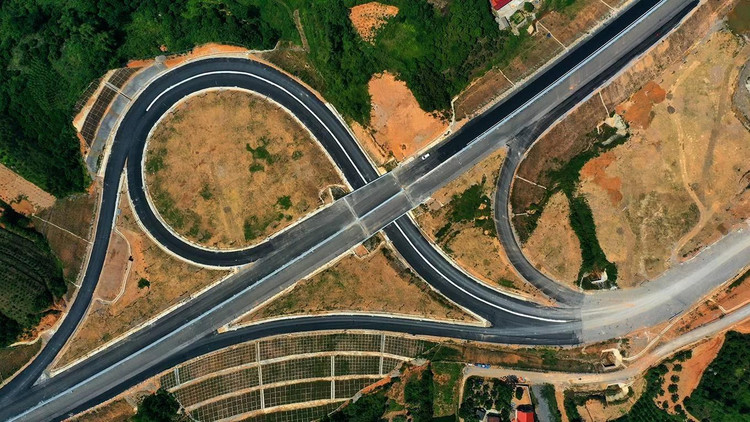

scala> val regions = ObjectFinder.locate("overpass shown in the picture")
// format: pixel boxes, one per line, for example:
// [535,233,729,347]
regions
[344,173,414,237]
